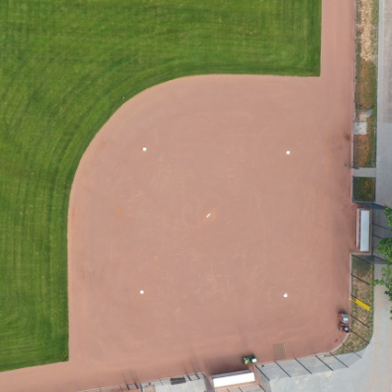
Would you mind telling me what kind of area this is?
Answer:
sports ground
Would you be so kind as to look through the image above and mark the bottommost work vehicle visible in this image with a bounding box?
[244,356,260,369]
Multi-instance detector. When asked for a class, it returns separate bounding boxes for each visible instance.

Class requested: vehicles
[244,356,260,369]
[340,315,354,335]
